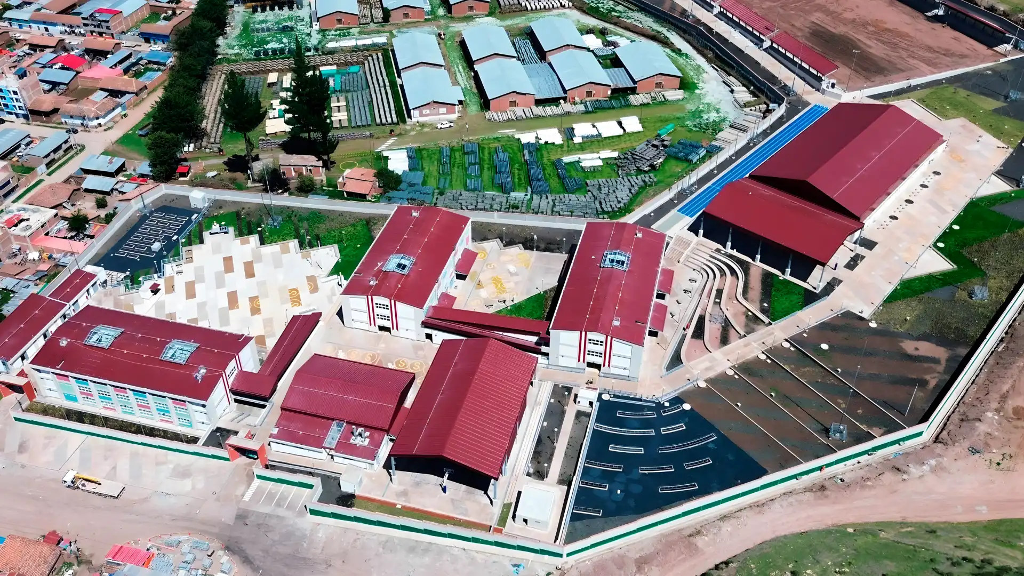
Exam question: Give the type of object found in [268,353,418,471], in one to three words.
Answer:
building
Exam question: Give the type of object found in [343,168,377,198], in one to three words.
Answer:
house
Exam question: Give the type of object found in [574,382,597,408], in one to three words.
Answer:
shed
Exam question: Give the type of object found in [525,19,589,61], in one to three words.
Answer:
building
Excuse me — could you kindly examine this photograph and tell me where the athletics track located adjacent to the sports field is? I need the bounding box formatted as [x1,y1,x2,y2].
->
[677,107,829,218]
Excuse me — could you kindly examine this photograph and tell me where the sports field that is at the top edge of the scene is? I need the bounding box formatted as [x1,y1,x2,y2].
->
[762,0,1008,94]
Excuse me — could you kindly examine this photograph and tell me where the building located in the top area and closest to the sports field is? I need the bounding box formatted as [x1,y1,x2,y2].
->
[753,103,944,222]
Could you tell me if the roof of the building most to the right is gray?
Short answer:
No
